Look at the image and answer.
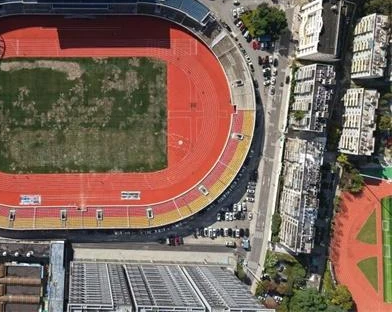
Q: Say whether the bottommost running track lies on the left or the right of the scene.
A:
right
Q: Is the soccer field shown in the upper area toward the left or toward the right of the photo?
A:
left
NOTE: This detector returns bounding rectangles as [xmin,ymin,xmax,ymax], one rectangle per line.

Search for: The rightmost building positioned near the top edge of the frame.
[349,13,392,80]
